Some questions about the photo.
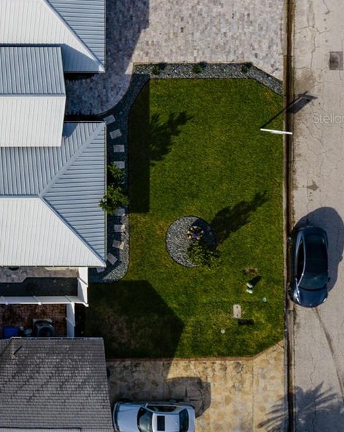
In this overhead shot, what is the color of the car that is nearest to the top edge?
black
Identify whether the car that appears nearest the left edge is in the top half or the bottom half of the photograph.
bottom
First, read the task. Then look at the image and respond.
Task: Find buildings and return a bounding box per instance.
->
[0,0,108,269]
[0,332,113,432]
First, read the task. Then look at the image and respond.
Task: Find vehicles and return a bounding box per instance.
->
[293,225,337,307]
[111,397,195,432]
